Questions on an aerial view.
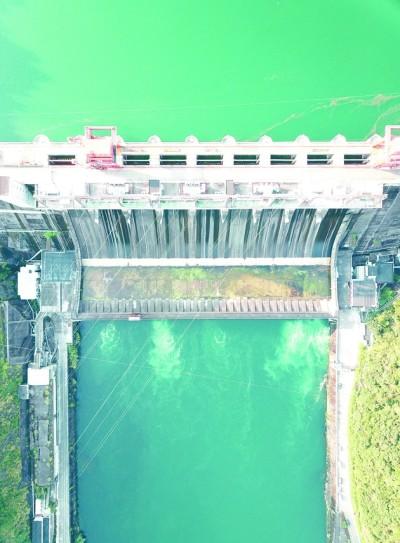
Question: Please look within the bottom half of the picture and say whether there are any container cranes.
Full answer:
No, within the bottom half of the picture there is no container crane.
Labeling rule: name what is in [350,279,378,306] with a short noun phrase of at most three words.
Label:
building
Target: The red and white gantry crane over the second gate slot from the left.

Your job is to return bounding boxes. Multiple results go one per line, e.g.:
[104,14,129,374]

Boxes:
[84,125,134,171]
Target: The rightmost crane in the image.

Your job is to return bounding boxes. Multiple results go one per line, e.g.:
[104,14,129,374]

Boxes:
[368,125,400,171]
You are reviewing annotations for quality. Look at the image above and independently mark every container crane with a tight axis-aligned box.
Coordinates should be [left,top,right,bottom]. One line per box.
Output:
[368,125,400,171]
[84,125,134,171]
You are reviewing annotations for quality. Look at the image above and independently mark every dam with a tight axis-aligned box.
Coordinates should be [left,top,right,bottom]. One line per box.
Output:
[0,136,400,324]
